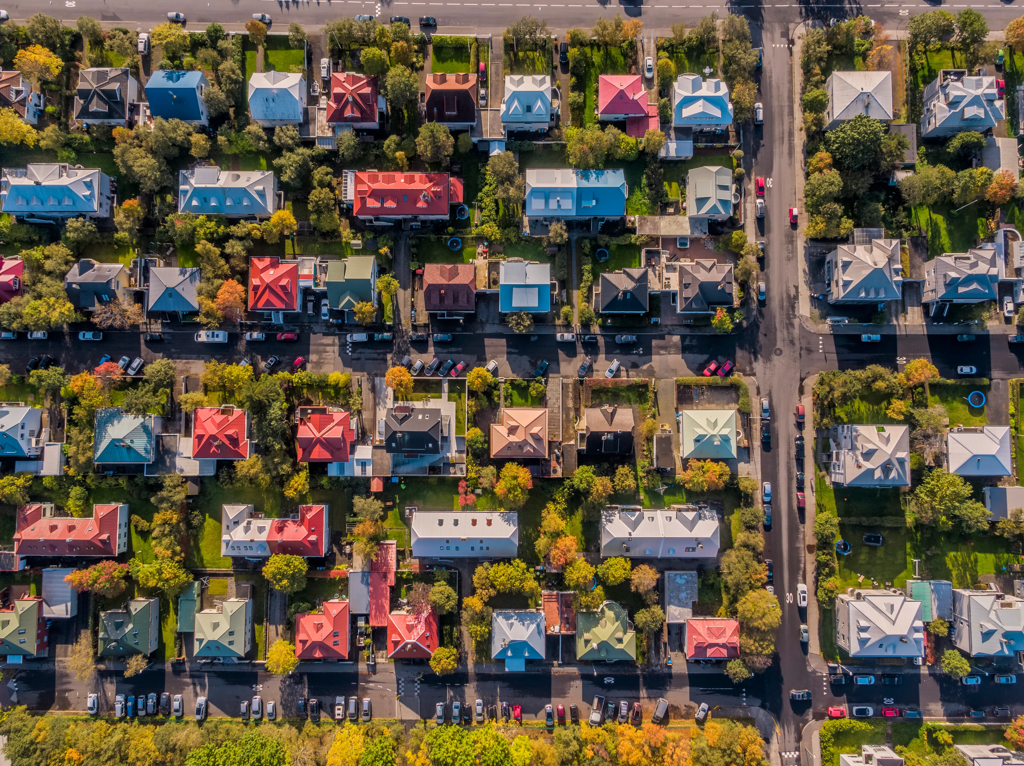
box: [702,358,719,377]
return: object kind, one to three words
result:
car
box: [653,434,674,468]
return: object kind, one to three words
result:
building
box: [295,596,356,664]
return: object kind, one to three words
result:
house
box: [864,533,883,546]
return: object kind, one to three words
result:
trampoline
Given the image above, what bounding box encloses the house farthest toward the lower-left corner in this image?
[0,595,55,664]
